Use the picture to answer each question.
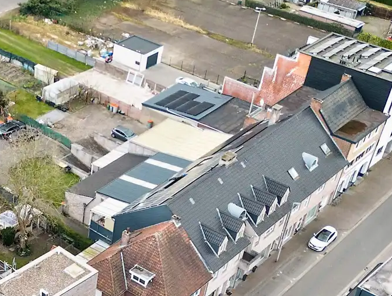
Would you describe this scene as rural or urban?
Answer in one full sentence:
The area is urban.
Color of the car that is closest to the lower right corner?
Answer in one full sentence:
The color of the car that is closest to the lower right corner is white.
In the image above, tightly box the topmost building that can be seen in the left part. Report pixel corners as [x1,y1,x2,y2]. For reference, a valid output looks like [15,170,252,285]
[112,35,163,71]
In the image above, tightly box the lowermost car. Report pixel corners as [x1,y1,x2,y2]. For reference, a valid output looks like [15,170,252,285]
[307,223,339,251]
